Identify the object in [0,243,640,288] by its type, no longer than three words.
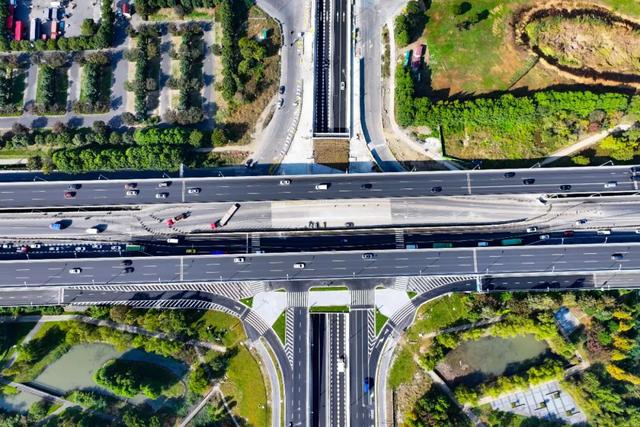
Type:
bridge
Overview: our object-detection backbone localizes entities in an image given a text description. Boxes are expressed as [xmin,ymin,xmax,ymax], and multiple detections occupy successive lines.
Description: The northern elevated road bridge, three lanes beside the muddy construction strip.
[0,164,640,209]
